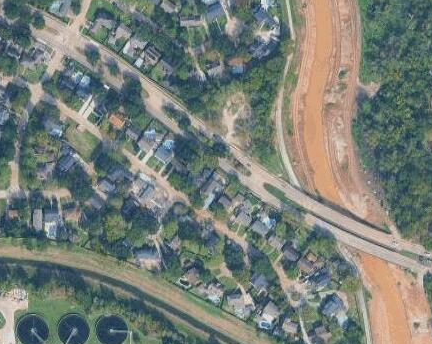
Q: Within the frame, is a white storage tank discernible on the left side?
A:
No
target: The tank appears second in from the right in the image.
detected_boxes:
[58,314,90,344]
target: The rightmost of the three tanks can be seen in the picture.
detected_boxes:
[96,314,129,344]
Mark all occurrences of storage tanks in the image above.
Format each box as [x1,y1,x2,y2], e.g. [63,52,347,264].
[96,314,129,344]
[17,314,49,344]
[58,314,90,344]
